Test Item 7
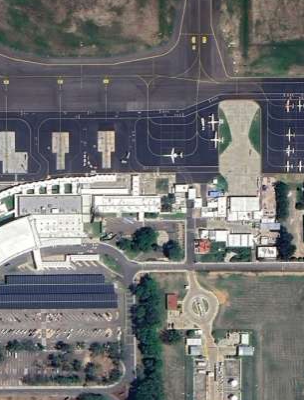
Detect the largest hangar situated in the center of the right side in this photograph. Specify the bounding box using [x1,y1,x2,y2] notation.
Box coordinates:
[231,198,261,212]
